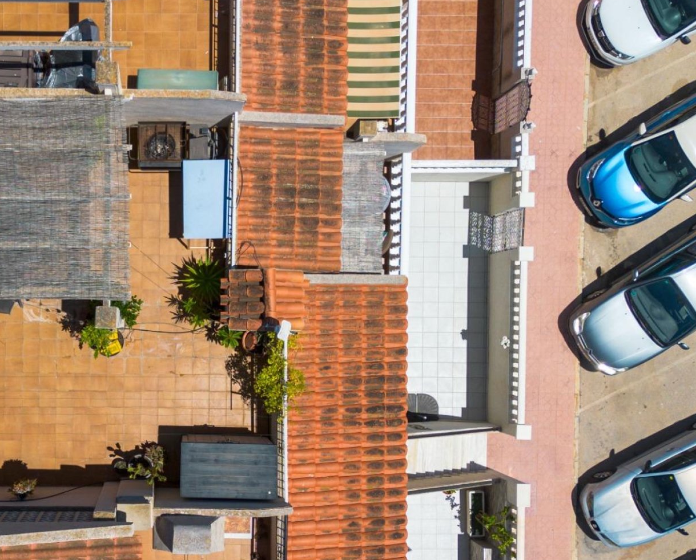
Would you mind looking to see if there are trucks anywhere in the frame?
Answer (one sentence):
No, the frame has no truck in it.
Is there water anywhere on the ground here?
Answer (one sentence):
No, the scene doesn't show any water.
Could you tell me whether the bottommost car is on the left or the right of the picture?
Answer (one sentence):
It is on the right.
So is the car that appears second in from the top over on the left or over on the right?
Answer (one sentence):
The car that appears second in from the top appears in the right half of the scene.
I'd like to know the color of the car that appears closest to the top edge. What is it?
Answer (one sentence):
From above, the car that appears closest to the top edge appears white.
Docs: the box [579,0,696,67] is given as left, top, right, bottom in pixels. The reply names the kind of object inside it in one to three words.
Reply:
car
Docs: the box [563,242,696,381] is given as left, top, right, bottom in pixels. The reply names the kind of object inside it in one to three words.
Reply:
car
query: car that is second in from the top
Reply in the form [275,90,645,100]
[573,108,696,233]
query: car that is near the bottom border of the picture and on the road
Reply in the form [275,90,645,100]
[579,436,696,557]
